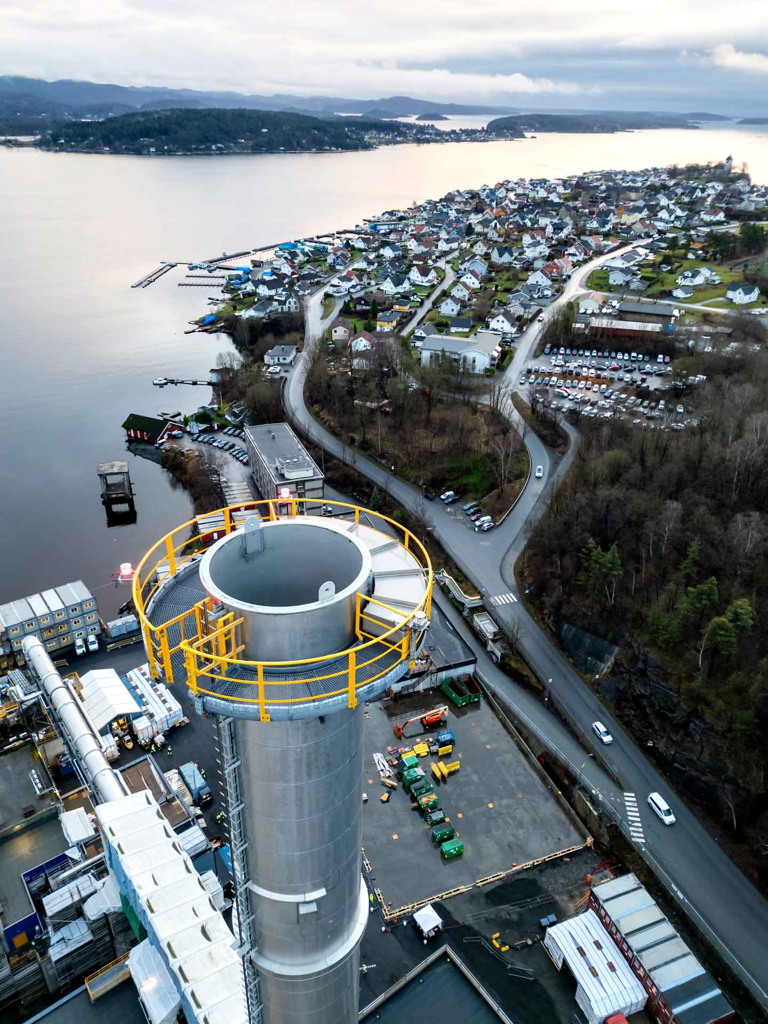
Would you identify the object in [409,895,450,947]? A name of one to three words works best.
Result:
tent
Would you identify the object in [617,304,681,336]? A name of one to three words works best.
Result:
shed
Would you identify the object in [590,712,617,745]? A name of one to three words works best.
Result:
car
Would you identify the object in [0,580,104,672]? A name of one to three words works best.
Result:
building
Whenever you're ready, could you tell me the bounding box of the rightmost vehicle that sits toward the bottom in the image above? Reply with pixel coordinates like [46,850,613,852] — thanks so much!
[647,784,679,824]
